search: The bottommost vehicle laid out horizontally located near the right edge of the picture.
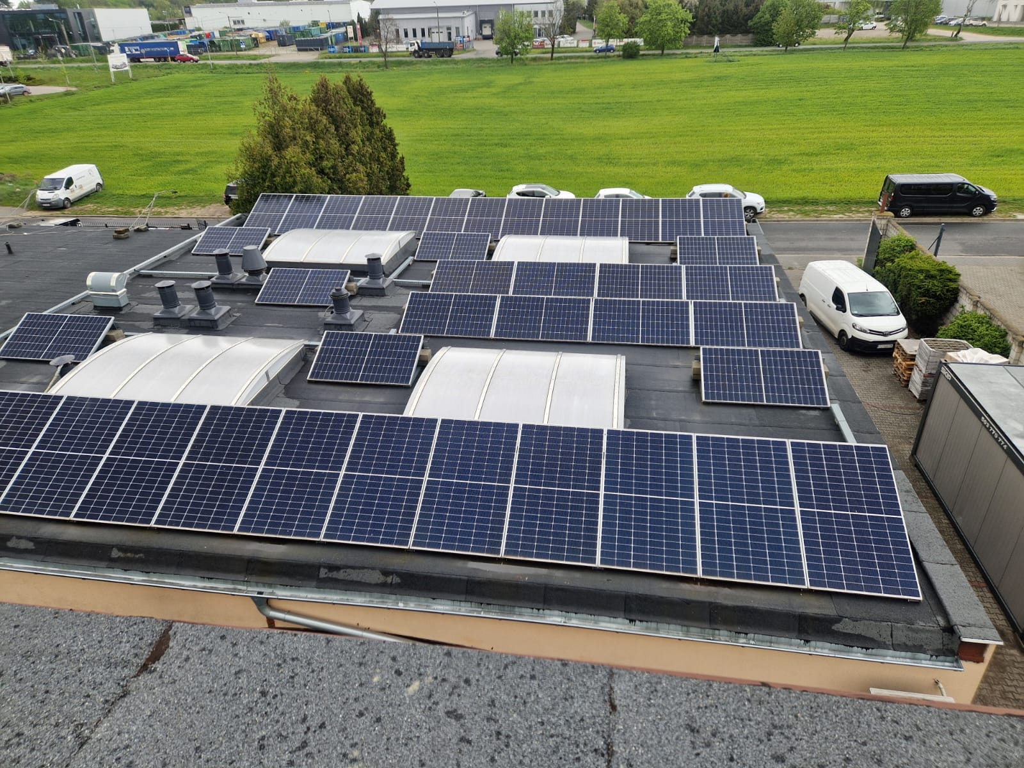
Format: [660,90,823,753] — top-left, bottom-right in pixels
[874,169,998,214]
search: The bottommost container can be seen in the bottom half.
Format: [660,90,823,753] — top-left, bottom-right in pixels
[910,364,1024,644]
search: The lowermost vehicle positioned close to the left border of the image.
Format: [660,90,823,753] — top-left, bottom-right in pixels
[37,159,109,205]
